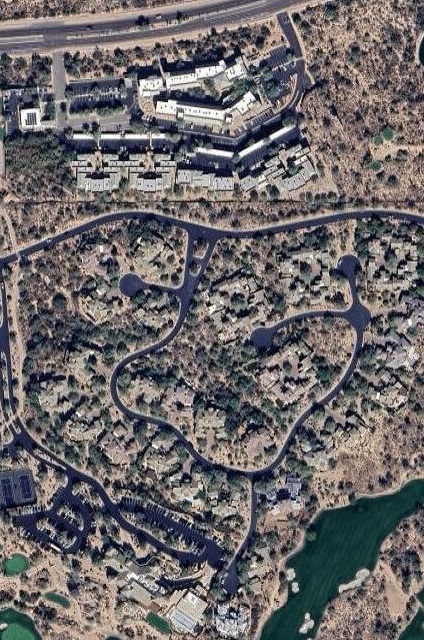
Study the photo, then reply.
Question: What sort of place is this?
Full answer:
The area seen from above is a residential area.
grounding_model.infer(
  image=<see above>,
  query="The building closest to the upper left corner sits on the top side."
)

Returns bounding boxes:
[21,109,57,130]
